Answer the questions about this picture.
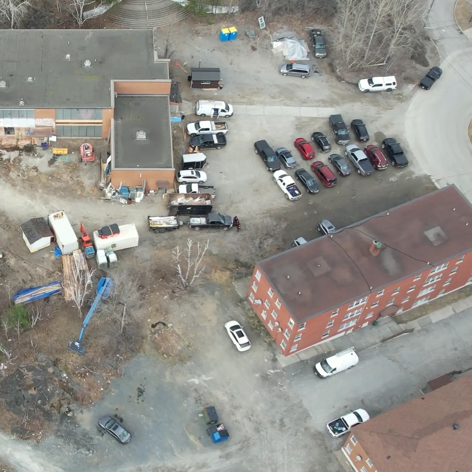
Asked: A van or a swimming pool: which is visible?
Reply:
van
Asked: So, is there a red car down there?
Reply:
Yes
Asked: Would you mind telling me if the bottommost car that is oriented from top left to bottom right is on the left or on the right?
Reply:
left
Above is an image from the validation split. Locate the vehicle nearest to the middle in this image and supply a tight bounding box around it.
[186,214,239,233]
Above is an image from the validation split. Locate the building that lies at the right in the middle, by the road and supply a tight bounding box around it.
[235,184,472,357]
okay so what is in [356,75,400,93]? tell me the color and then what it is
white vehicle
